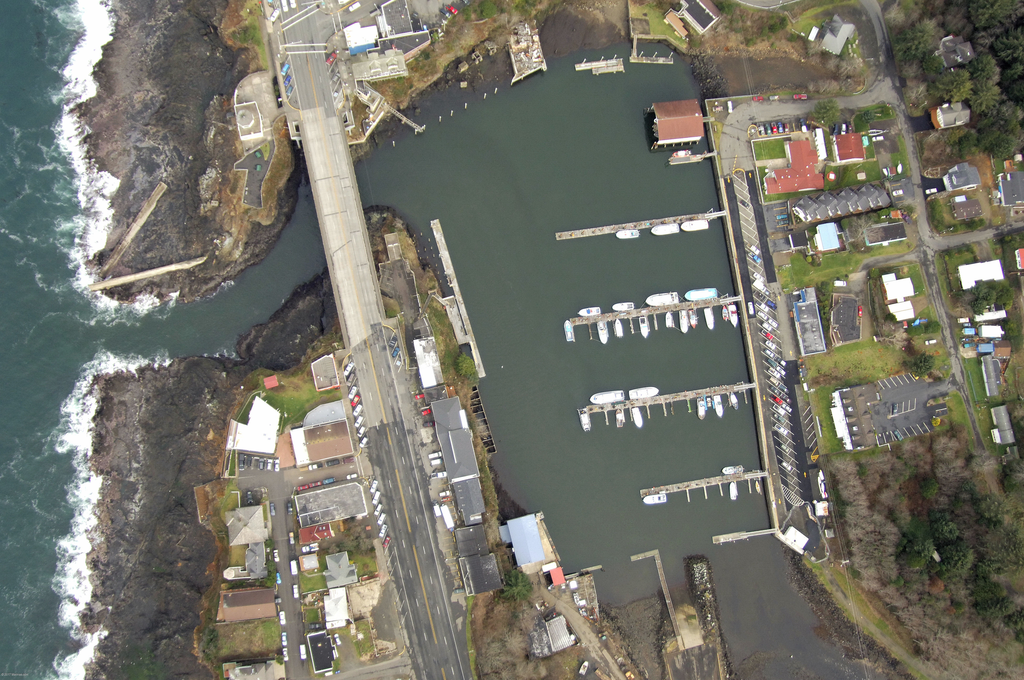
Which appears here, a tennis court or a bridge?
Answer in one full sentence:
Looking from above, you can make out a bridge.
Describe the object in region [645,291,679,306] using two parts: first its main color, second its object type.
white boat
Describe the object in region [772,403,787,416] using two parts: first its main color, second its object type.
white vehicle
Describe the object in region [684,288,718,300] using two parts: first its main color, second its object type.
white boat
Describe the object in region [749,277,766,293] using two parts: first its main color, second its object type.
white camper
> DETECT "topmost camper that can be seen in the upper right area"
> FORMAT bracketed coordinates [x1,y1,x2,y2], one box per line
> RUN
[806,24,820,43]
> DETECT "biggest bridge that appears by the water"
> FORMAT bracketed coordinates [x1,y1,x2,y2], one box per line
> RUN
[287,106,387,348]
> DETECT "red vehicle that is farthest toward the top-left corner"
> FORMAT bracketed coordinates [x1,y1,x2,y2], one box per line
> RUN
[325,51,338,66]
